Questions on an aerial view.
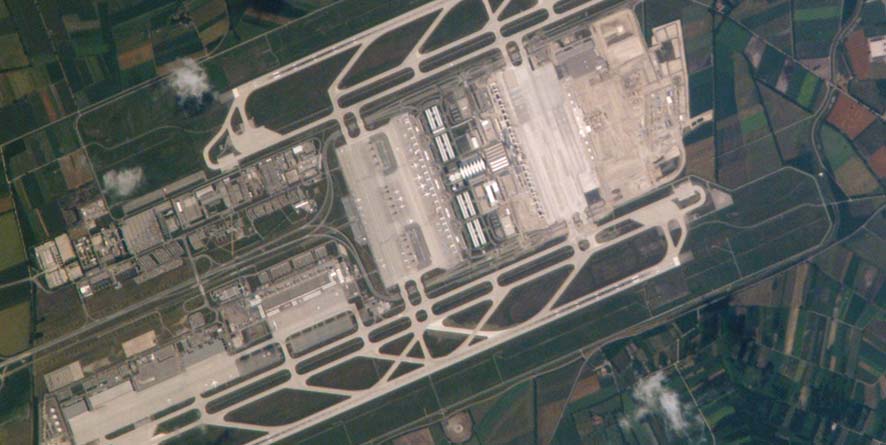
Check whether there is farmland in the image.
Yes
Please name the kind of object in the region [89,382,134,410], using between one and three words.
hangar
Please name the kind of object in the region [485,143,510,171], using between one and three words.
building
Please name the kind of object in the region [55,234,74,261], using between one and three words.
shed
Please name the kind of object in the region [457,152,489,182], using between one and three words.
building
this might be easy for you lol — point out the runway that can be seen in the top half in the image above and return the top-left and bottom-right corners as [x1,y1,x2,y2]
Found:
[233,0,459,98]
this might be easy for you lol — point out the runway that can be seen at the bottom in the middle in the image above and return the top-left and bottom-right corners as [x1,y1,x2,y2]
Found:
[245,256,679,445]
